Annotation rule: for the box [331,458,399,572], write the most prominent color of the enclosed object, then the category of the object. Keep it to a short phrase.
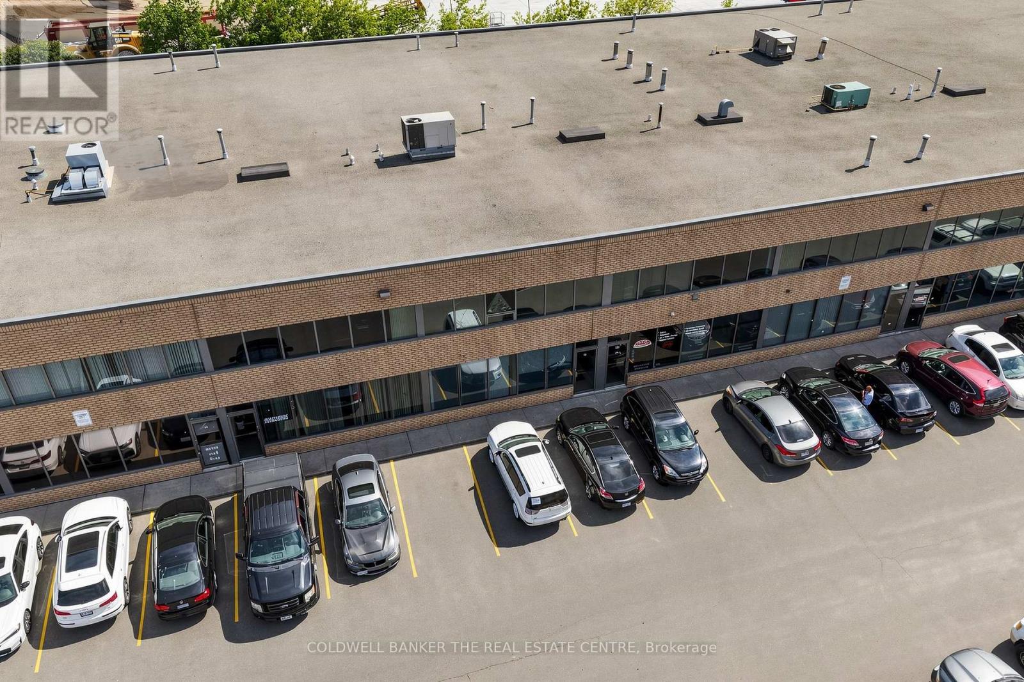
gray car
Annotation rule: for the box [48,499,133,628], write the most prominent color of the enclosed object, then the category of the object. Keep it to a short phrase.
white car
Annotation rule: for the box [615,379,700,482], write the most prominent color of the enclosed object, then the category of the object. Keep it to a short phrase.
black car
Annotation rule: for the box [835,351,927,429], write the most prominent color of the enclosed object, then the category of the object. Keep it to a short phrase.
black car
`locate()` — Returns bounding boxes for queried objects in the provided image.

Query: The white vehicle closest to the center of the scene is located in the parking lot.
[492,423,571,526]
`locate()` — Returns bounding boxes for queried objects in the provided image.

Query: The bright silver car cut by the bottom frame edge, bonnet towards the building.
[930,645,1021,682]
